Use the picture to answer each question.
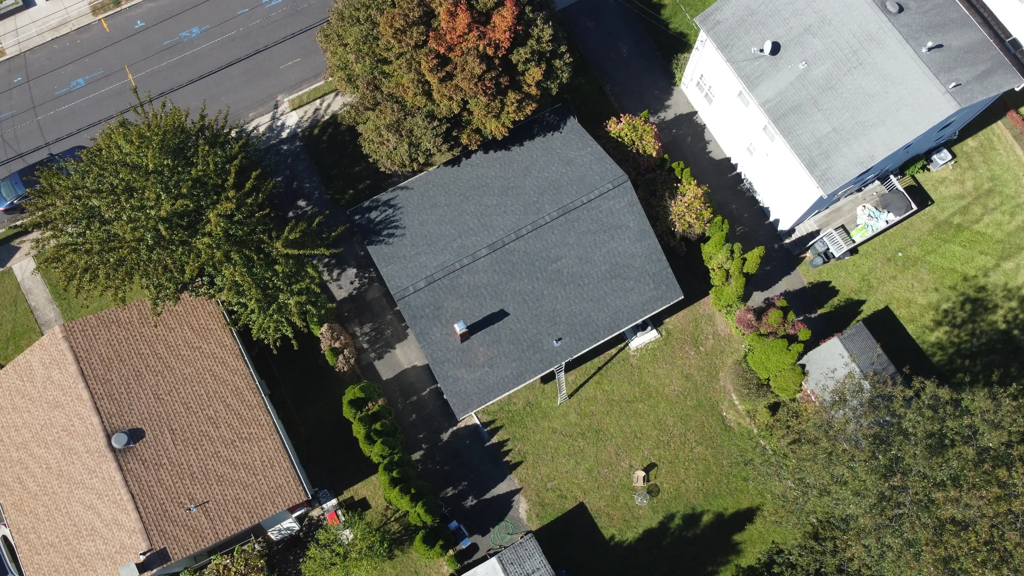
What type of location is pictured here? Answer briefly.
residential area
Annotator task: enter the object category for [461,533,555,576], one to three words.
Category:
shed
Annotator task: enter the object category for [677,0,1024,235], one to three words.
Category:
house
